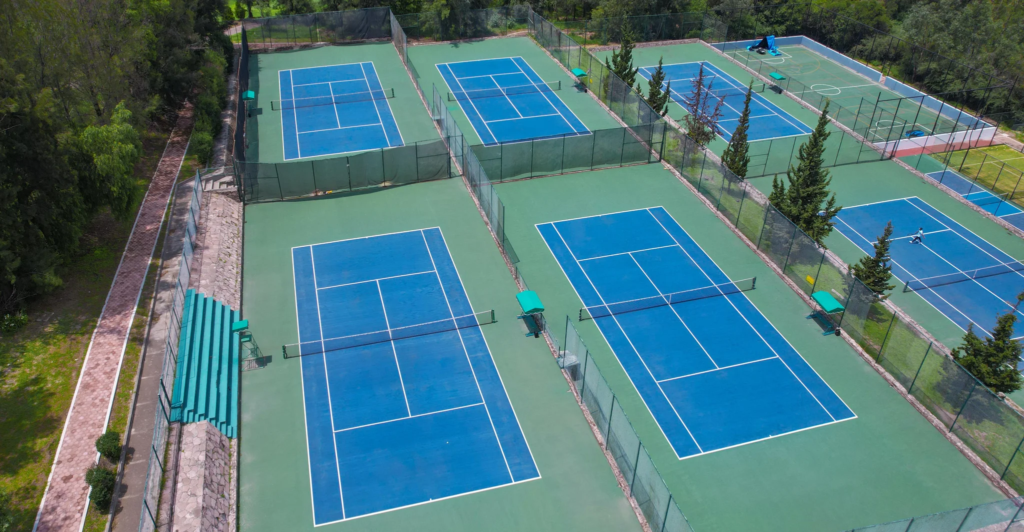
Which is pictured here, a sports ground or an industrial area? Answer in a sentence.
The area seen from above is a sports ground.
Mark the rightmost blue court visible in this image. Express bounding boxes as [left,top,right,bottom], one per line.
[898,153,1024,234]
